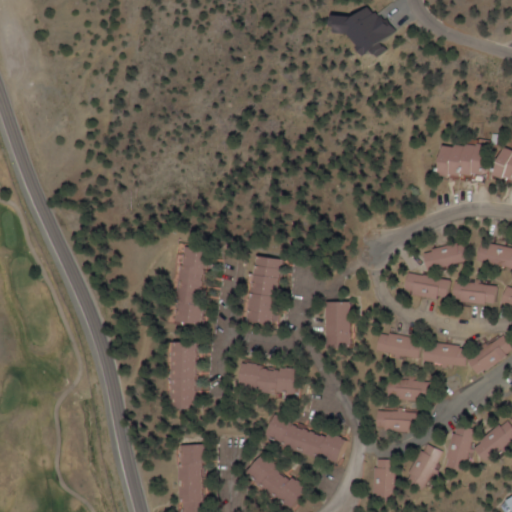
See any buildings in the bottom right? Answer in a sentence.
Yes, there is a building in the bottom right.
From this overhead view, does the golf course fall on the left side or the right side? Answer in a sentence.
You can find the golf course on the left side of the picture.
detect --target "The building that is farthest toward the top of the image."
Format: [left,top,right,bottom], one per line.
[328,4,396,56]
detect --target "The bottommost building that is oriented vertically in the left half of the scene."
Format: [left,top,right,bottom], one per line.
[177,444,206,512]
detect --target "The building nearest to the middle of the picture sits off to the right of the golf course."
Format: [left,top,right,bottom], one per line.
[246,256,285,324]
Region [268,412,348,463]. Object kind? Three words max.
building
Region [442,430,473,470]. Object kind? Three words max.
house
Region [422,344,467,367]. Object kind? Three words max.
house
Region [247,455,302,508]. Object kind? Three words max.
building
